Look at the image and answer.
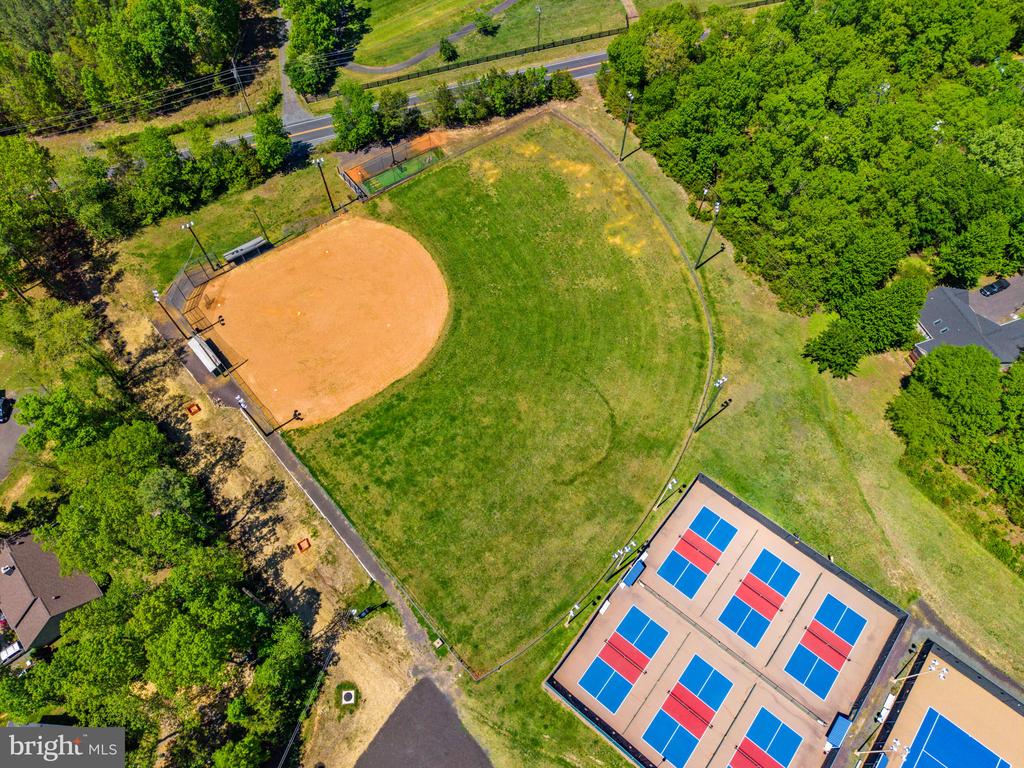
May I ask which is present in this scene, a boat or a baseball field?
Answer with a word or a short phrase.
baseball field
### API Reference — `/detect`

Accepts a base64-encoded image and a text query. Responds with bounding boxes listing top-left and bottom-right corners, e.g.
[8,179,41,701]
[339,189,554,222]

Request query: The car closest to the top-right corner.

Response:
[980,280,1010,296]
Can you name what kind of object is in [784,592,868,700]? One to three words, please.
sports court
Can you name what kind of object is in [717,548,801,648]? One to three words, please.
sports court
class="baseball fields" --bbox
[184,109,714,682]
